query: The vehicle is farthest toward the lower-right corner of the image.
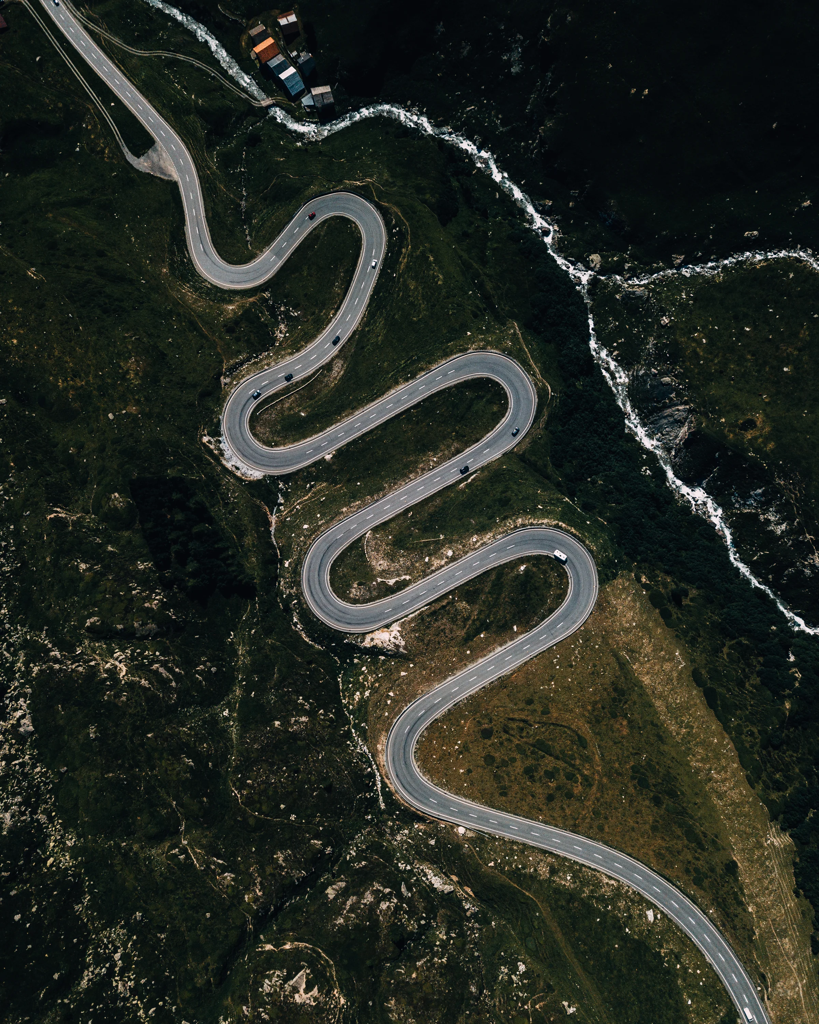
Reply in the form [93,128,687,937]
[741,1004,753,1020]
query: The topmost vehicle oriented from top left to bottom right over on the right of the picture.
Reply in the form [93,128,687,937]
[551,548,568,561]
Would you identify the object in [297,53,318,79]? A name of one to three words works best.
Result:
house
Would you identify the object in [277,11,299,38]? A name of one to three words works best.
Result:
barn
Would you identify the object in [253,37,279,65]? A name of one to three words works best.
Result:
house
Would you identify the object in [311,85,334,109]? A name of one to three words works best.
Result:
barn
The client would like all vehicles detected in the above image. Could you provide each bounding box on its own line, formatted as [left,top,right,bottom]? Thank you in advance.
[251,389,262,398]
[741,1004,753,1020]
[458,465,471,474]
[371,259,377,268]
[551,548,568,561]
[511,426,520,436]
[307,211,316,219]
[283,373,293,380]
[331,335,341,344]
